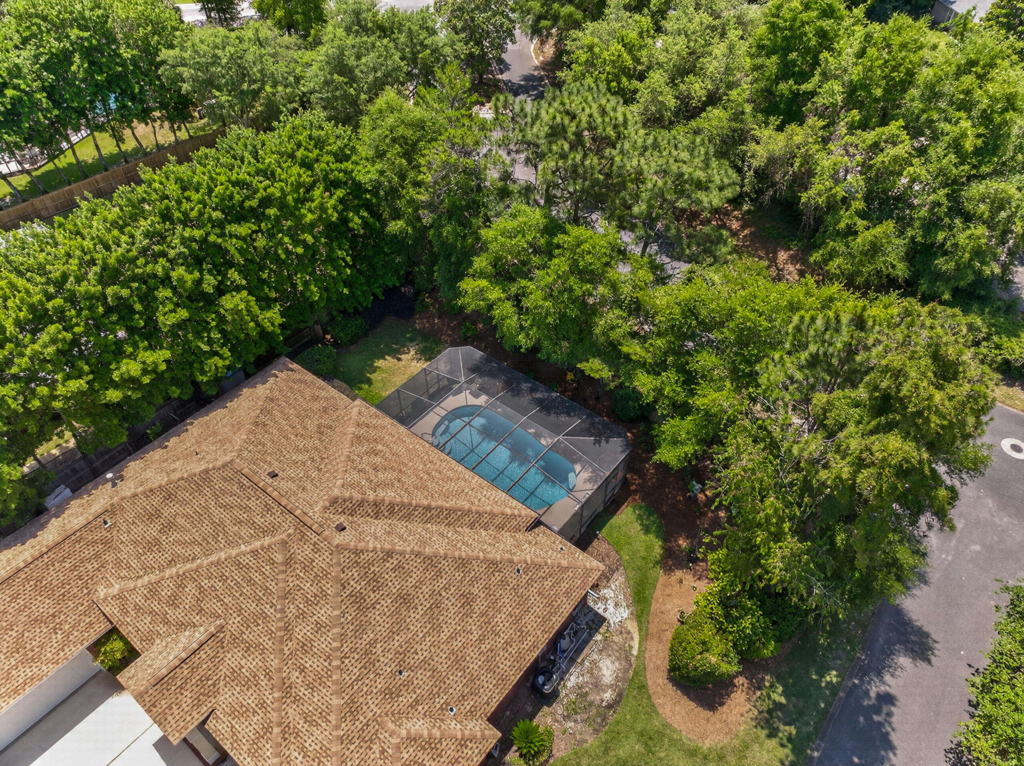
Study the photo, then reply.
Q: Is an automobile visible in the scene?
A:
No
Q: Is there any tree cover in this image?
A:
Yes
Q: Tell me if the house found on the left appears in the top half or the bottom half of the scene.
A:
bottom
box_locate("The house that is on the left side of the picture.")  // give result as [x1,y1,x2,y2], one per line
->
[0,356,607,766]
